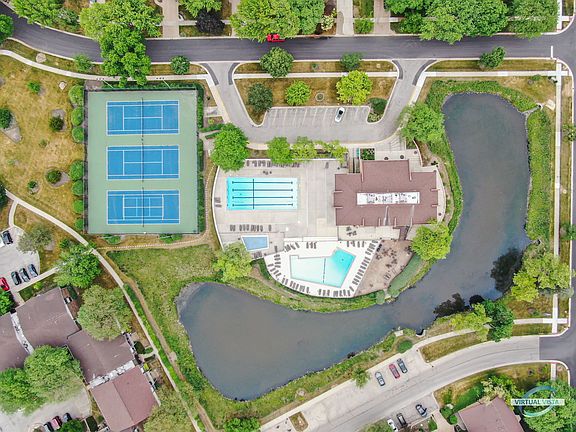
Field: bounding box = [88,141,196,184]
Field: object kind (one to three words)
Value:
tennis court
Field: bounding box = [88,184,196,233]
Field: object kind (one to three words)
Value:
tennis court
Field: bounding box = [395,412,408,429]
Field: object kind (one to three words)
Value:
vehicle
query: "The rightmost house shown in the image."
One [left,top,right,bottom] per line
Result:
[455,394,517,432]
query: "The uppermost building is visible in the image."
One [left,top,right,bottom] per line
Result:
[332,148,440,226]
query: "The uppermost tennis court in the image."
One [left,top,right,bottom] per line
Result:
[88,91,196,141]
